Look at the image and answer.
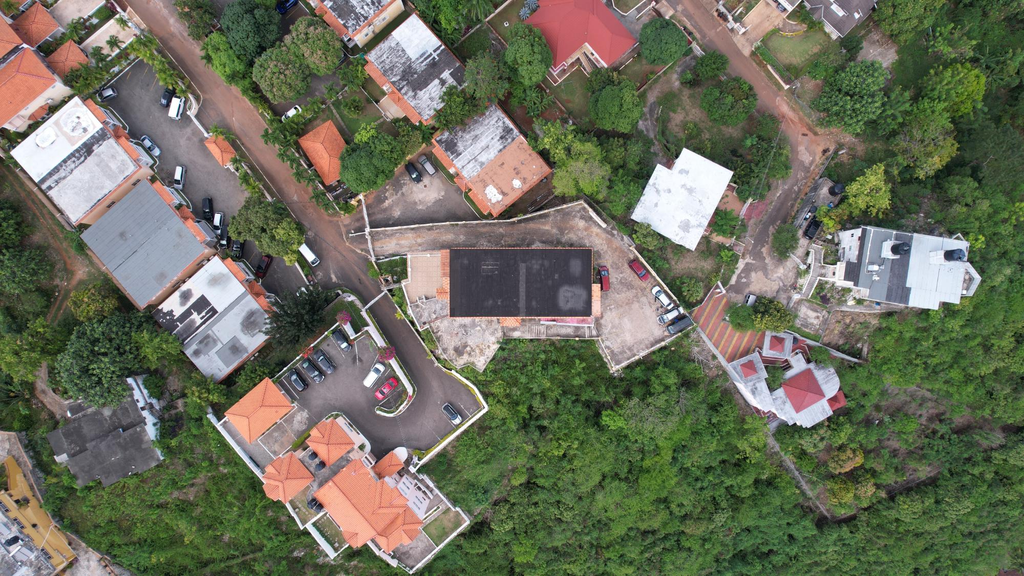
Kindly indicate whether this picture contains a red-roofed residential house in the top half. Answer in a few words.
Yes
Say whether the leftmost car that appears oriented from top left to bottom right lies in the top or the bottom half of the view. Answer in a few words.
top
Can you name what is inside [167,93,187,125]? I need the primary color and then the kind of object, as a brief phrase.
white car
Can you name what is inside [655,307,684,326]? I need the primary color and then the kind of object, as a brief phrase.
white car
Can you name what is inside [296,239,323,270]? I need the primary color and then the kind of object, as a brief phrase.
white vehicle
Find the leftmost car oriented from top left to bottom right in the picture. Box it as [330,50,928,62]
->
[139,131,163,160]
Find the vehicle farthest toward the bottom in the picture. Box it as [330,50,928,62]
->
[440,399,463,428]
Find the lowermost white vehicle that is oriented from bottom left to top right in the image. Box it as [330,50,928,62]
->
[362,361,387,390]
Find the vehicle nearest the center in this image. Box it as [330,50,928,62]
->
[598,265,612,293]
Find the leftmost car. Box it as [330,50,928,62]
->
[94,86,123,104]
